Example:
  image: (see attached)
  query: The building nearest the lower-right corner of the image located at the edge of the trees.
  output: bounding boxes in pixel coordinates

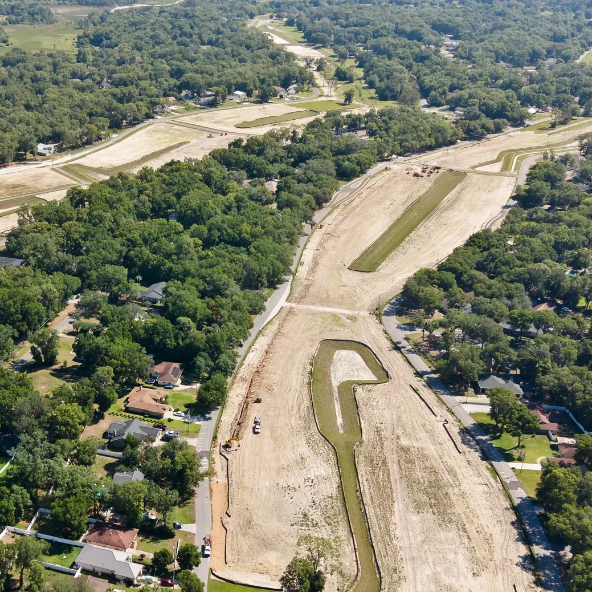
[534,436,573,470]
